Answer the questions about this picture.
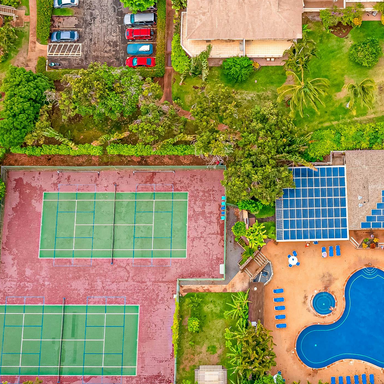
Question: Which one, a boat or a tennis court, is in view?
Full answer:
I can see a tennis court in this picture.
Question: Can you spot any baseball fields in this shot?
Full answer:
No, I can't see a single baseball field in this photo.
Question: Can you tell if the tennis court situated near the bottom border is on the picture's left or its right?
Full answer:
The tennis court situated near the bottom border is on the left side of the image.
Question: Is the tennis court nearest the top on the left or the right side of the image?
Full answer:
It is on the left.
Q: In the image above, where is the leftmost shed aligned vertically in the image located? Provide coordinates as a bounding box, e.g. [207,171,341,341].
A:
[249,282,263,326]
